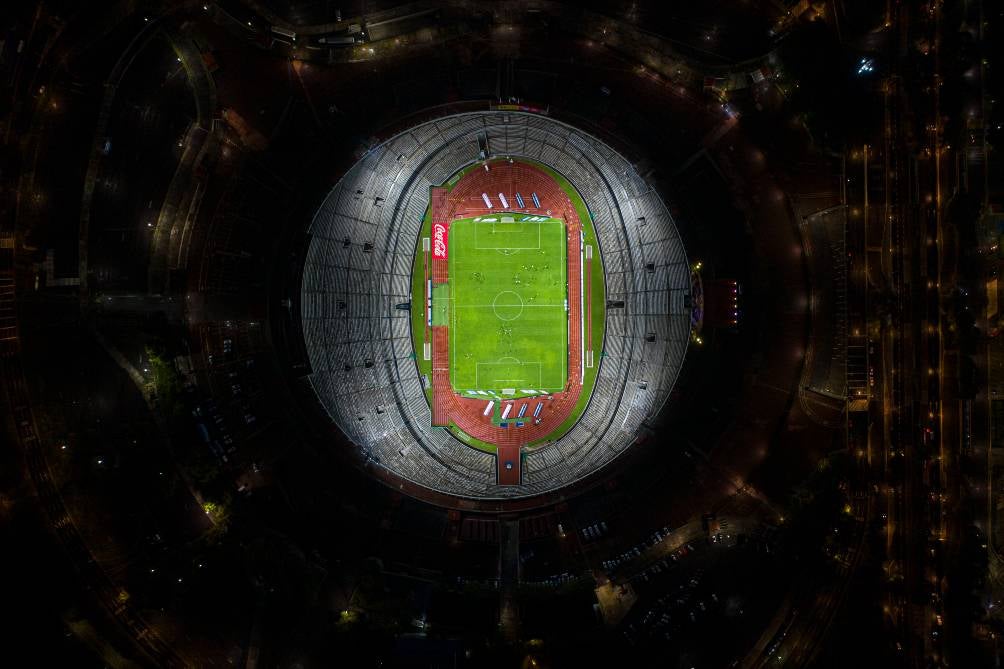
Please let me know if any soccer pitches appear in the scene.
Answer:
Yes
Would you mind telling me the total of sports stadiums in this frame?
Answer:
1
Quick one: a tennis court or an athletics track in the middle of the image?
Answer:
athletics track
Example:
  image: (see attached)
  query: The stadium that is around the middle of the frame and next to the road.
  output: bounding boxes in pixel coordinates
[267,75,727,536]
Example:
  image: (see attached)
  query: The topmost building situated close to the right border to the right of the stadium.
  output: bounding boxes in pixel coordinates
[954,202,1004,242]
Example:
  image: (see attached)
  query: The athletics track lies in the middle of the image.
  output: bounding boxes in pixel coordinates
[432,161,581,444]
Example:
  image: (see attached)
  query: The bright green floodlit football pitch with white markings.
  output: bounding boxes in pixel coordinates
[449,213,567,398]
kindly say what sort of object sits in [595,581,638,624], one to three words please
building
